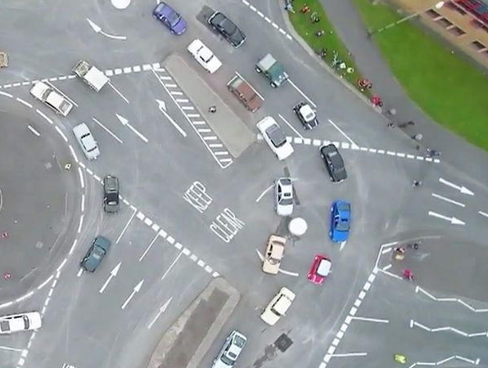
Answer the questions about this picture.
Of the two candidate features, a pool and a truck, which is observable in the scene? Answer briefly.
truck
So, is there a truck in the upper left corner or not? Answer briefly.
Yes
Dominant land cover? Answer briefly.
paved ground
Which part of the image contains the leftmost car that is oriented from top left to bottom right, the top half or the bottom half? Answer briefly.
top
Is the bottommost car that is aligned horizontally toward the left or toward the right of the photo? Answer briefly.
left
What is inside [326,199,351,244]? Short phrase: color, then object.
blue car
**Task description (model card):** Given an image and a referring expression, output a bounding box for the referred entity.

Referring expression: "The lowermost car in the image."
[209,329,247,368]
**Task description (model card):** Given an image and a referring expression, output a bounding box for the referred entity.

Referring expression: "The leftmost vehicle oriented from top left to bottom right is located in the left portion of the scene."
[29,80,74,117]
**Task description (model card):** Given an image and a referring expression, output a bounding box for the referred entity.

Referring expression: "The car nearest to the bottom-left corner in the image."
[0,310,43,335]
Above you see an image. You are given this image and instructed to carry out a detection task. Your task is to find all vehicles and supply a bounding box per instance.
[223,71,264,113]
[0,310,43,335]
[73,121,99,161]
[326,199,351,244]
[209,329,247,368]
[253,115,293,161]
[251,49,291,90]
[205,8,247,48]
[79,235,109,275]
[183,38,223,74]
[259,233,285,275]
[151,0,189,38]
[29,80,74,117]
[258,285,295,327]
[288,98,320,133]
[304,252,331,286]
[273,176,296,216]
[101,175,120,214]
[69,57,114,93]
[318,141,346,185]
